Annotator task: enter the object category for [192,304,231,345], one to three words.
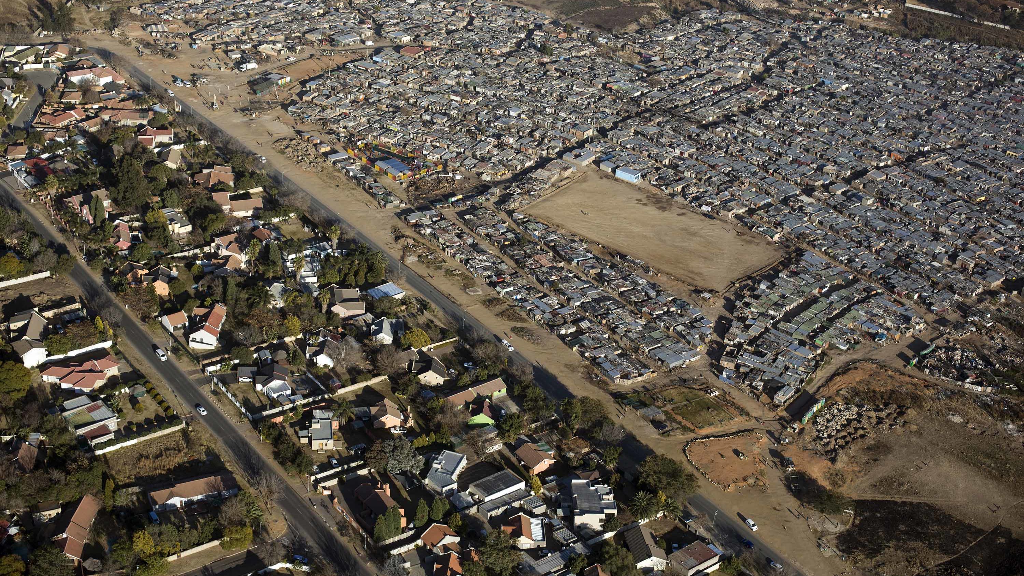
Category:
house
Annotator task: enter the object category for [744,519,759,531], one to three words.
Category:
vehicle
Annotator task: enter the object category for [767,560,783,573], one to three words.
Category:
vehicle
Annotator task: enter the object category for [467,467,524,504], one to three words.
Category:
building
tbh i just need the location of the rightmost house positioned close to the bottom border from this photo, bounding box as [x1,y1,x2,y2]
[667,537,728,576]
